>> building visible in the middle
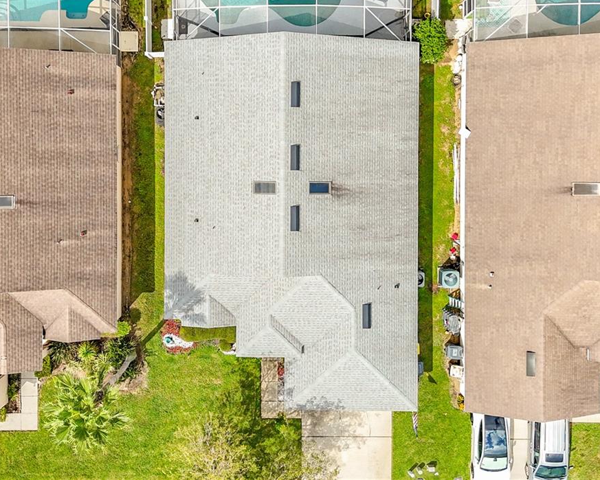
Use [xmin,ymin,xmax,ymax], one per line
[163,32,420,412]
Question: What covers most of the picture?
buildings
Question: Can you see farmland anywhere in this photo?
No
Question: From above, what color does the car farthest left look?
white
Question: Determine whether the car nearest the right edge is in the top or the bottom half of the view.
bottom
